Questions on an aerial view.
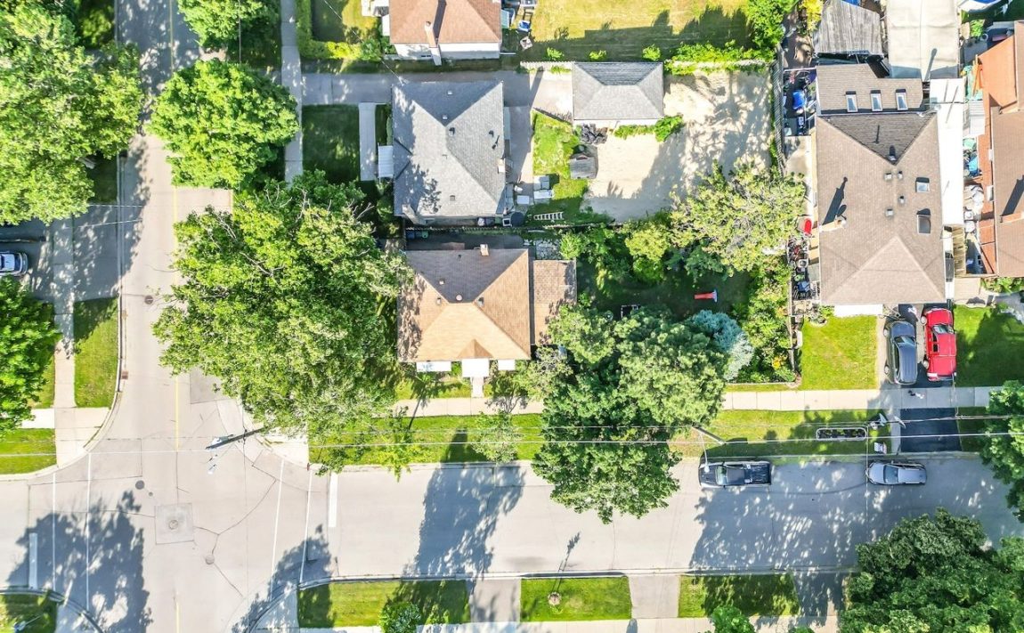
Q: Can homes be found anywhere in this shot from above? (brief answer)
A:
Yes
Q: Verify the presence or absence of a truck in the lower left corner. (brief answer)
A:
No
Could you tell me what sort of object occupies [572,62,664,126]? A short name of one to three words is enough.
building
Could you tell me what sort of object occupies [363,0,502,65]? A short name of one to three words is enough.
house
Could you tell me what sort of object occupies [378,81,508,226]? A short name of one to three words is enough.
house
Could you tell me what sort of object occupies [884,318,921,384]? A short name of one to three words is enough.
car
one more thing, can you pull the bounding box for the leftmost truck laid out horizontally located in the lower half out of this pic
[696,458,773,490]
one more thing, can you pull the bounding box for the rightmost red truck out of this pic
[922,310,958,380]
